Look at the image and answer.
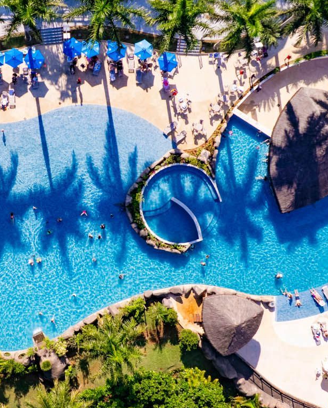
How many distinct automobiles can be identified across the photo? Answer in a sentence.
The photo contains no automobiles.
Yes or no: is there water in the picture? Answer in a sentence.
Yes, water shows up in the scene.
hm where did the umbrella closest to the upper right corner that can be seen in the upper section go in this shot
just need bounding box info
[155,51,176,71]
